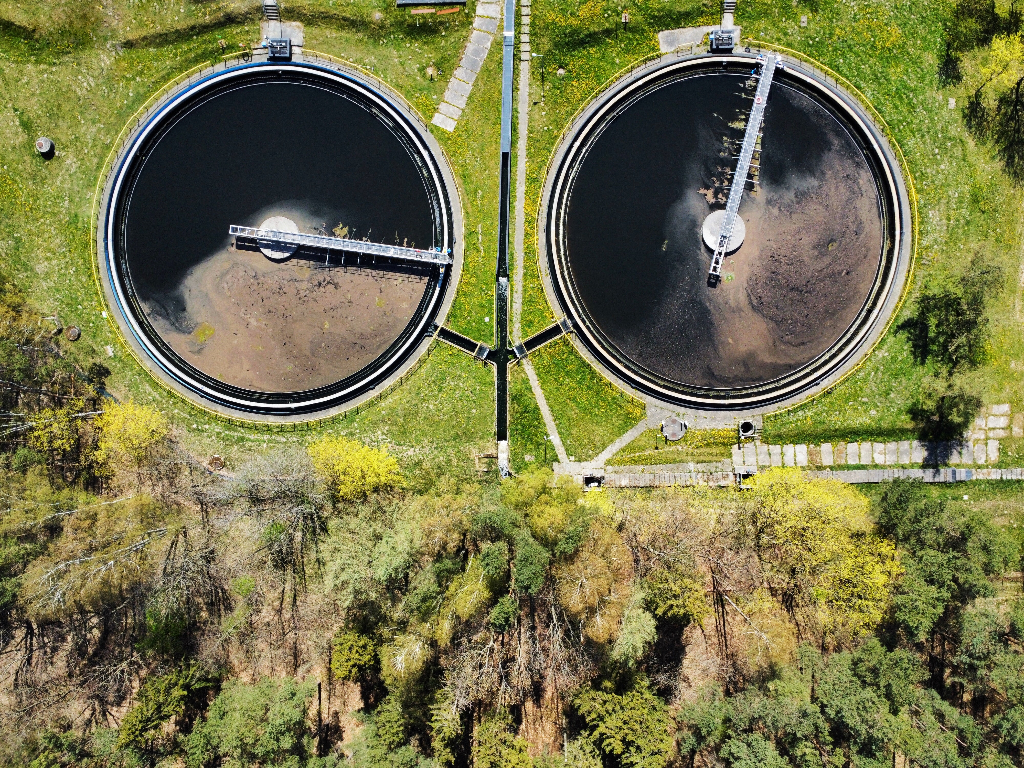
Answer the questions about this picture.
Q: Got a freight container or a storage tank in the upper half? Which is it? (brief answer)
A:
storage tank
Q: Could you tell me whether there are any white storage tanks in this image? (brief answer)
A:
Yes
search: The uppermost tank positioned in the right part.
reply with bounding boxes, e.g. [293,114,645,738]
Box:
[544,50,906,412]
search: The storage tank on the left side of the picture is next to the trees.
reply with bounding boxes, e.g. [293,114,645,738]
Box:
[102,60,456,414]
